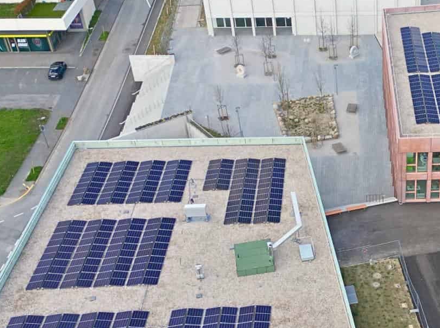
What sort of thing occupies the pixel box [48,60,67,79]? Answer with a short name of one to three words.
car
